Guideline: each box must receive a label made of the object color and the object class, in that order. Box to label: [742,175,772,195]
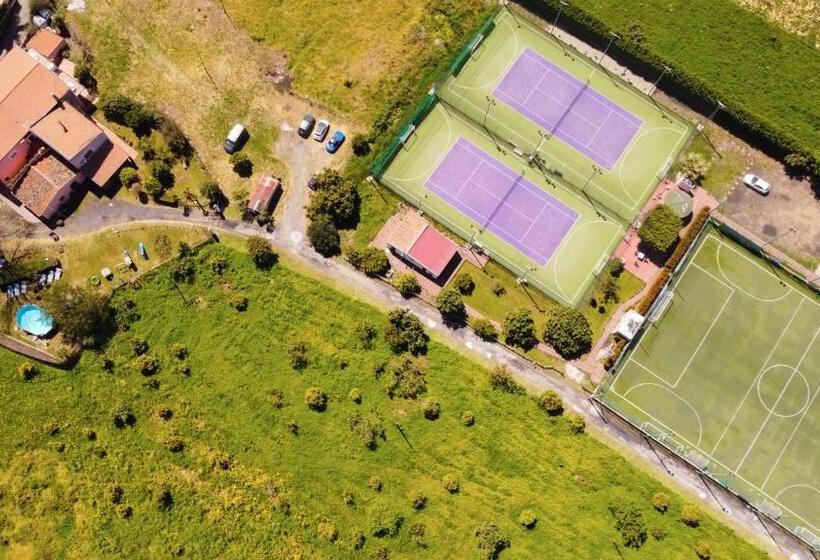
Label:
white car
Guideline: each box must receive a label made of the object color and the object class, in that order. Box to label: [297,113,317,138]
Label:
gray car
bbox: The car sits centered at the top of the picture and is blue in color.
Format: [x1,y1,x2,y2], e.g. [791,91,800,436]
[326,130,344,154]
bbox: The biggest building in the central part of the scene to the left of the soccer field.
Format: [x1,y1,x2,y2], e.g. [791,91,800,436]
[386,213,458,281]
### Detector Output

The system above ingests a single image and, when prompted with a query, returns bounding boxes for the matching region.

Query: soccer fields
[596,221,820,550]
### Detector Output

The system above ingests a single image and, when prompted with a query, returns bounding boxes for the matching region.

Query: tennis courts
[438,4,698,219]
[372,93,634,313]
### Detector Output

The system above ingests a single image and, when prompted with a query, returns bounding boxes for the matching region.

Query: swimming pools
[15,304,55,338]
